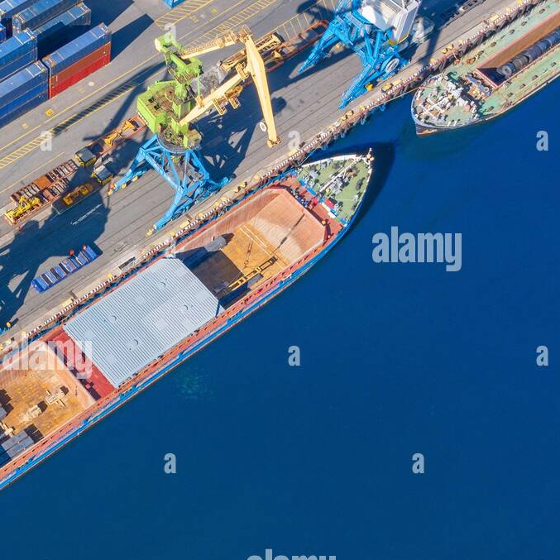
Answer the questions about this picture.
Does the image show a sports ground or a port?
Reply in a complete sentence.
This image shows a port.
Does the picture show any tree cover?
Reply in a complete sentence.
No, the scene doesn't show any tree cover.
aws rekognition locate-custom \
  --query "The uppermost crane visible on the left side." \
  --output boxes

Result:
[102,21,278,238]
